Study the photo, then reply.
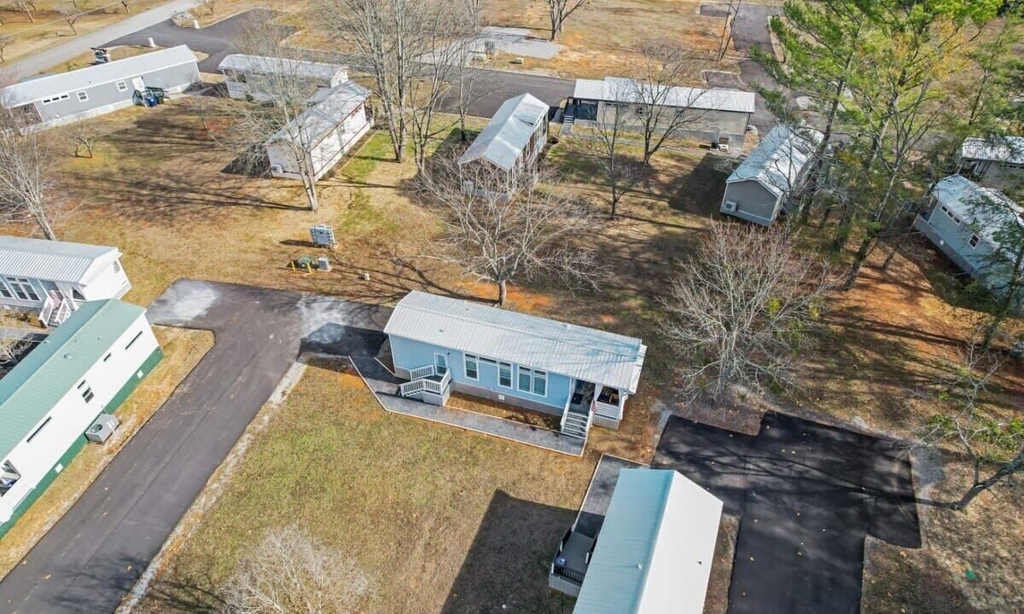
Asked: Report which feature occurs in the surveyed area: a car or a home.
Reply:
home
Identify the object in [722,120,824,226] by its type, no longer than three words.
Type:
house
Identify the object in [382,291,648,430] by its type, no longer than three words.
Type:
house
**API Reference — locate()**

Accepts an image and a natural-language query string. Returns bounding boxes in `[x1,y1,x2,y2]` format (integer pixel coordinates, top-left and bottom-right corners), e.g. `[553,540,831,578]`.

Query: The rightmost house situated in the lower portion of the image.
[572,467,723,614]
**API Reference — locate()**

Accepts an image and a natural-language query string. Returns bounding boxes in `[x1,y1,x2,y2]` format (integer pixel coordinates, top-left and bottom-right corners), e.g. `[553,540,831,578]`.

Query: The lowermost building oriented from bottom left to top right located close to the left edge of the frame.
[0,297,161,541]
